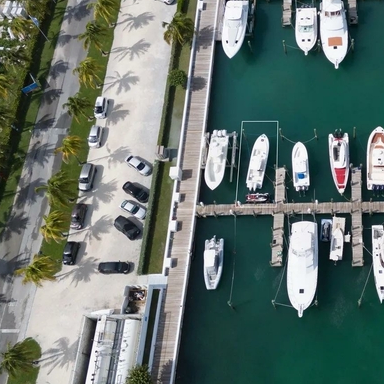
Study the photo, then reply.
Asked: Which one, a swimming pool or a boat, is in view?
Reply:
boat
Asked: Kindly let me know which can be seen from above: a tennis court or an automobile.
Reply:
automobile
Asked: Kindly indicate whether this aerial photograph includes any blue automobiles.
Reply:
No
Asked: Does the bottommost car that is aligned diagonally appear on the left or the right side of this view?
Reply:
left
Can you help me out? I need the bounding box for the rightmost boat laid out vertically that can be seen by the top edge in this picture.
[318,0,349,68]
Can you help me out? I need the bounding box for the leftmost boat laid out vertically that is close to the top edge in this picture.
[221,0,248,59]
